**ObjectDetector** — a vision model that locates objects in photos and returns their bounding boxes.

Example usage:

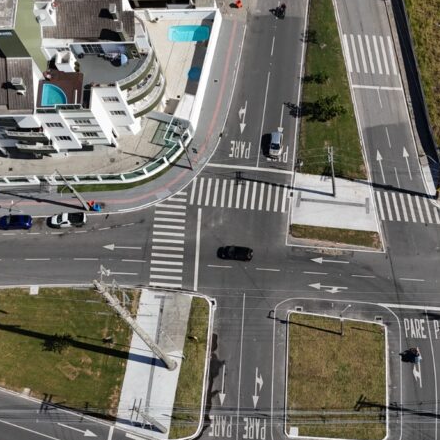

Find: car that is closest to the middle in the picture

[217,242,254,262]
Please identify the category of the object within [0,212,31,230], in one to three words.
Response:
car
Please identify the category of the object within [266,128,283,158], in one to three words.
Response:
car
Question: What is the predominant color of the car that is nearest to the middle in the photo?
black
